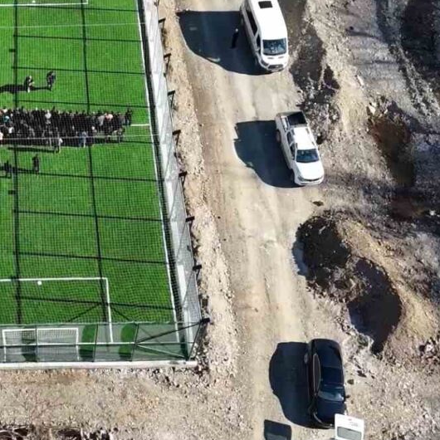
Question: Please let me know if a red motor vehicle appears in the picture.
No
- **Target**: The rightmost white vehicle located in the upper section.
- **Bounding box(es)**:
[275,112,330,188]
